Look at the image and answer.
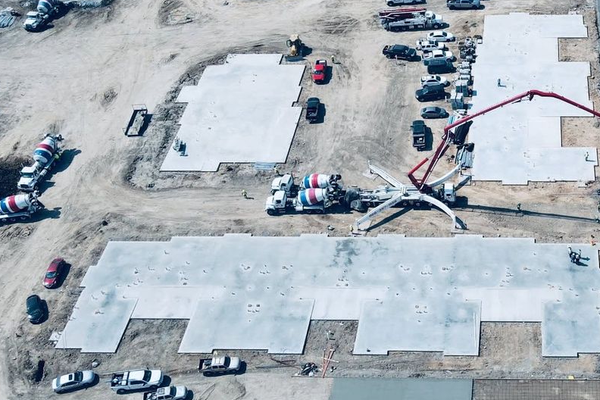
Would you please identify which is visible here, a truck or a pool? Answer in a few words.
truck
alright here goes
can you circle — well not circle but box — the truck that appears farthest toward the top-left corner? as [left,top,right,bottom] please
[19,0,59,31]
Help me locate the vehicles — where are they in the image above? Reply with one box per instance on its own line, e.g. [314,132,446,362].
[270,174,346,202]
[305,99,321,122]
[51,370,97,395]
[381,44,418,60]
[25,292,47,327]
[17,133,64,192]
[419,40,447,53]
[356,89,600,228]
[41,260,67,289]
[427,33,454,44]
[447,0,480,11]
[421,51,454,64]
[413,86,446,104]
[140,385,193,400]
[0,193,47,226]
[284,34,303,62]
[385,0,418,6]
[380,9,441,31]
[422,59,454,76]
[19,0,59,31]
[192,353,246,375]
[419,109,450,122]
[311,60,327,84]
[411,124,427,149]
[107,367,166,396]
[420,78,450,90]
